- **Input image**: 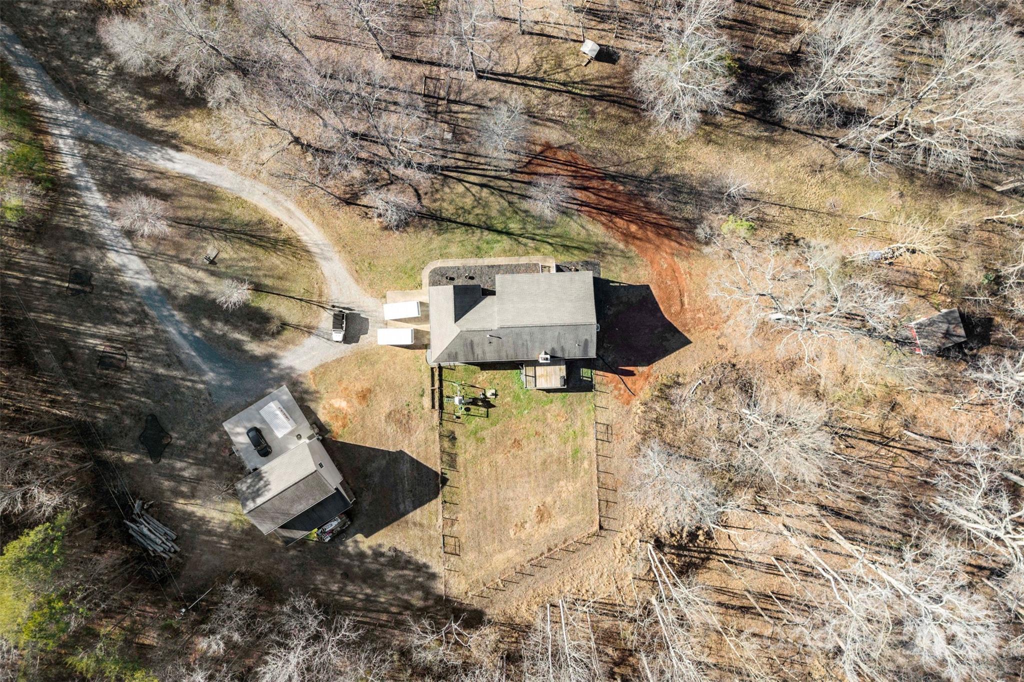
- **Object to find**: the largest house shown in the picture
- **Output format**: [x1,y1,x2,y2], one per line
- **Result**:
[429,263,600,388]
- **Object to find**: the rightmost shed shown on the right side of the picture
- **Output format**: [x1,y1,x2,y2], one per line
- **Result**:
[903,308,966,355]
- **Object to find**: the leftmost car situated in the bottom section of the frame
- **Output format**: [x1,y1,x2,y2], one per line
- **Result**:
[247,425,271,458]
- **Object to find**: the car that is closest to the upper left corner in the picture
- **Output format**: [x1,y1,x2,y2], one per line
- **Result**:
[333,311,350,341]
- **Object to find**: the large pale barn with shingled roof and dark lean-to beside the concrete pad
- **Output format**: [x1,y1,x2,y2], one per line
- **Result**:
[237,440,356,546]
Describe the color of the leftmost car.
black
